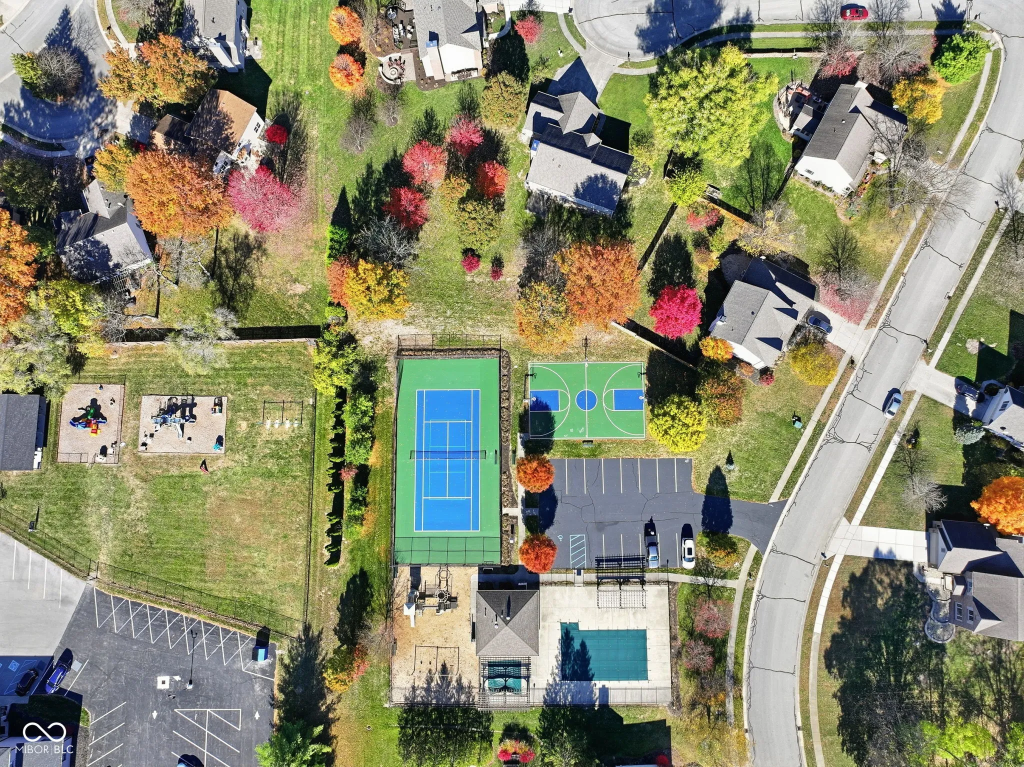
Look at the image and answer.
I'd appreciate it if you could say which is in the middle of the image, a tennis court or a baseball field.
tennis court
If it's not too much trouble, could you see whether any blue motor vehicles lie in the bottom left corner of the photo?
Yes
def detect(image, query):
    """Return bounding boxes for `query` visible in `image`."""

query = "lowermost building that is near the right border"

[928,519,1024,639]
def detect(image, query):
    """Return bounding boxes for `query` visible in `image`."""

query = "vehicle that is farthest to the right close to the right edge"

[953,383,985,405]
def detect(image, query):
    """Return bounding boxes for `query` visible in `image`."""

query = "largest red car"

[840,8,867,21]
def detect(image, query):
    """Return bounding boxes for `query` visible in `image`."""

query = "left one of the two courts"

[394,357,501,566]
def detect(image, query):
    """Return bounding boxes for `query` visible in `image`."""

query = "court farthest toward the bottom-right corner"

[529,362,646,439]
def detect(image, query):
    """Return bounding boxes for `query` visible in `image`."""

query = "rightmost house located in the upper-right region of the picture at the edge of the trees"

[790,77,915,200]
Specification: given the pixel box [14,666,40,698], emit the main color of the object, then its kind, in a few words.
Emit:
black car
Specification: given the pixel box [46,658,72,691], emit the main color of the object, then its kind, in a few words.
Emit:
blue car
